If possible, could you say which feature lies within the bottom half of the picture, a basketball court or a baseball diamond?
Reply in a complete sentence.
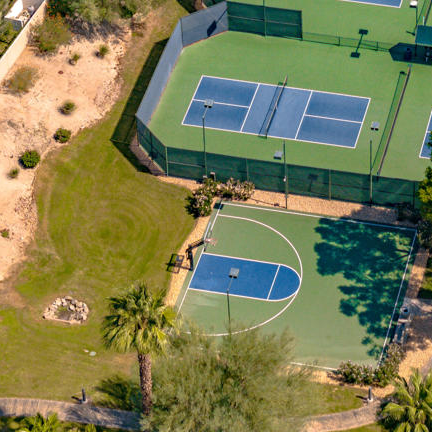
The one visible within the bottom half of the picture is a basketball court.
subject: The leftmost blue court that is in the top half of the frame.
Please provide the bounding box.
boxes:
[183,76,371,148]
